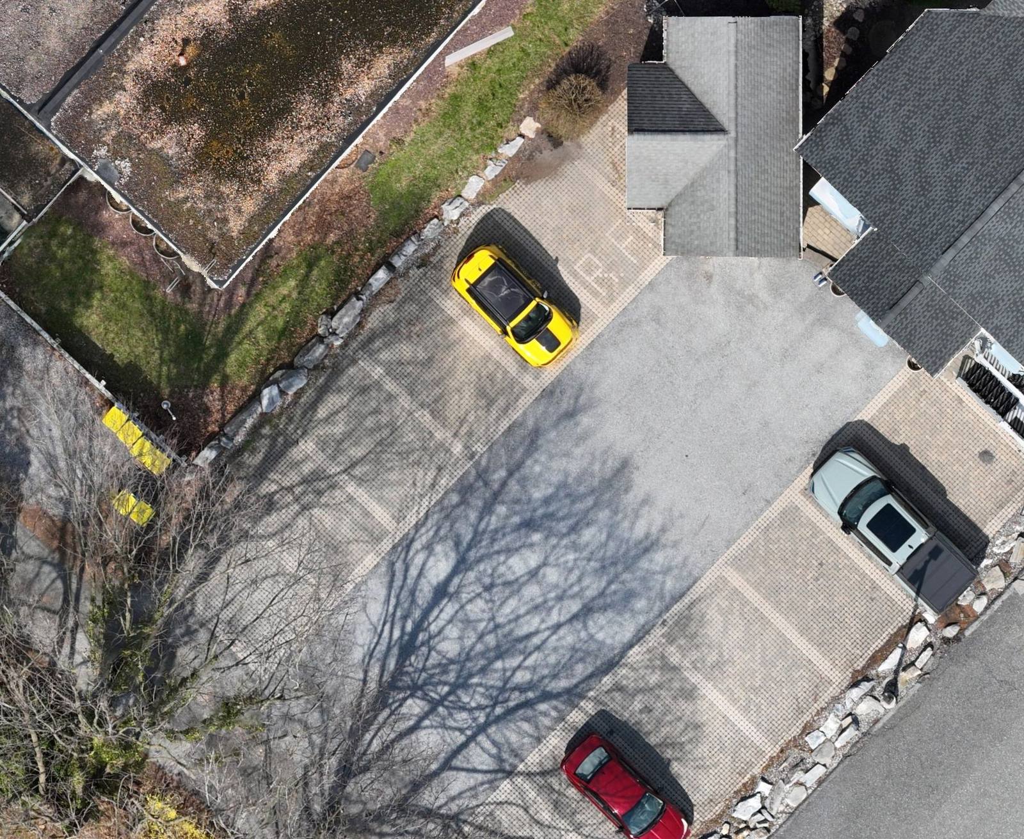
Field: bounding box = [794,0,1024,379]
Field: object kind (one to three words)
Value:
house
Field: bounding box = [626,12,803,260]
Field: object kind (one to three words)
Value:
building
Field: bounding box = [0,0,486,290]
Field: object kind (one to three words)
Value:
building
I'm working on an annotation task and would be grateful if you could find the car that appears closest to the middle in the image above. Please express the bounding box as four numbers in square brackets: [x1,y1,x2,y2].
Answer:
[451,238,579,371]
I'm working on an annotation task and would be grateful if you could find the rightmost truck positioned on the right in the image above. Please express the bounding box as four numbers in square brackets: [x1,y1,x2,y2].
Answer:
[808,441,984,617]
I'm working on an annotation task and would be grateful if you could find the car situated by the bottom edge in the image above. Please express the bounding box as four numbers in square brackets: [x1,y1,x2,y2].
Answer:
[561,734,698,839]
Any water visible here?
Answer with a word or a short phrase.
No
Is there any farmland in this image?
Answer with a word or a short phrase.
No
